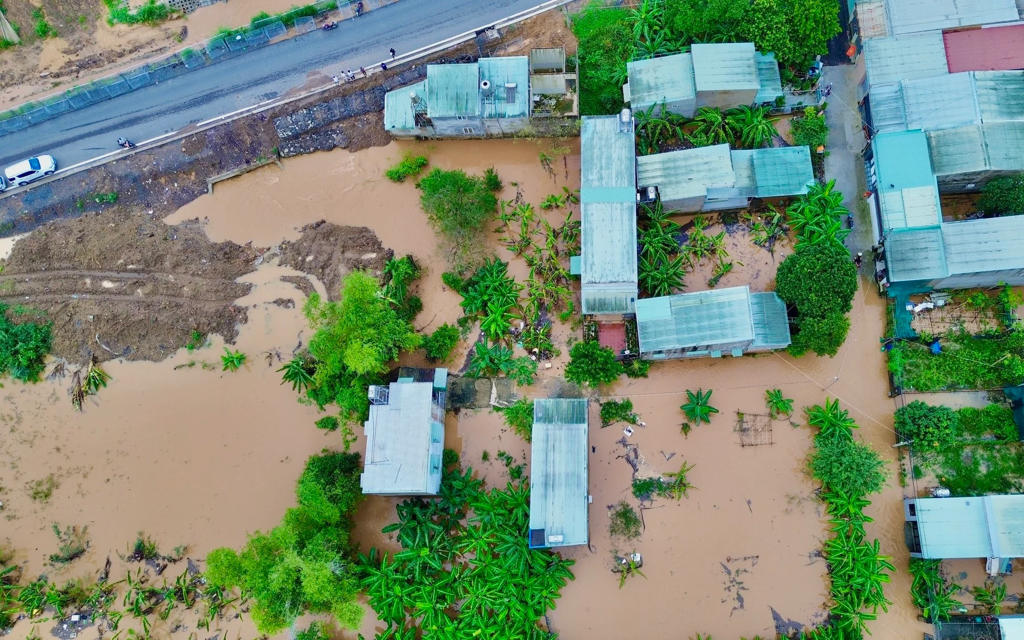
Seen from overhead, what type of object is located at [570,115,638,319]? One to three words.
house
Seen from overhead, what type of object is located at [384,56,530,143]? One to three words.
house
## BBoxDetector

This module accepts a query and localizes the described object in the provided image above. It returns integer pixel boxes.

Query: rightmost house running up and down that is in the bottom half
[529,395,593,549]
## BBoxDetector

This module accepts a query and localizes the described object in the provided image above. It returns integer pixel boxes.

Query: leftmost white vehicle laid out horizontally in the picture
[3,160,55,190]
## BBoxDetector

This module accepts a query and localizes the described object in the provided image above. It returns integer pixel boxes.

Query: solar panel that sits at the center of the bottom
[529,529,545,546]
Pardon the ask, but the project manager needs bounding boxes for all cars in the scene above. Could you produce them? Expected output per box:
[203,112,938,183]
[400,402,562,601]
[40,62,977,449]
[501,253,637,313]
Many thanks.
[3,160,55,190]
[0,176,8,196]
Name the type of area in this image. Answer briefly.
residential area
